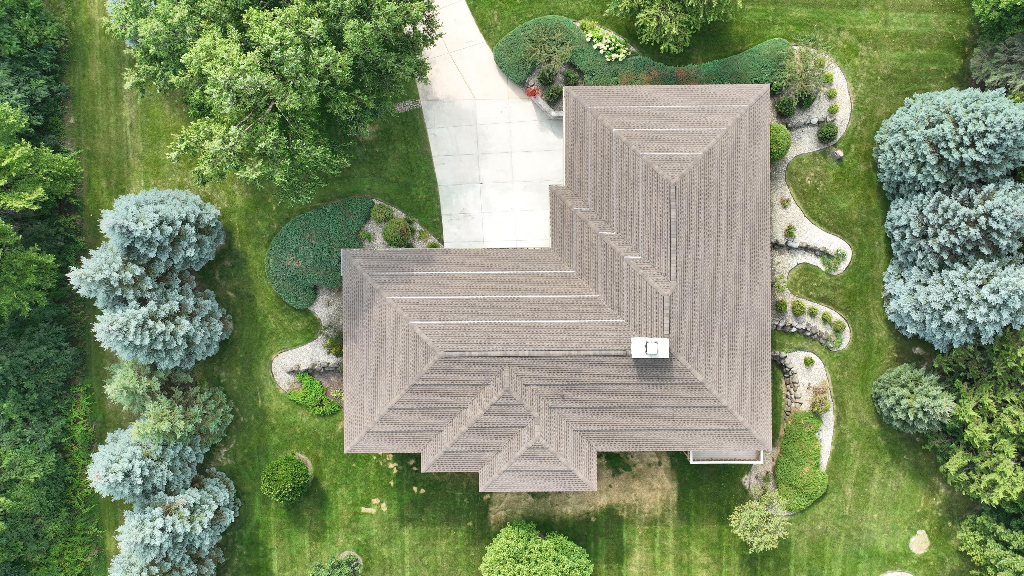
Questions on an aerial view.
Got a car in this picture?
No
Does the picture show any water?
No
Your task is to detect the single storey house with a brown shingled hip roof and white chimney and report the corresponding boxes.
[341,83,773,493]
